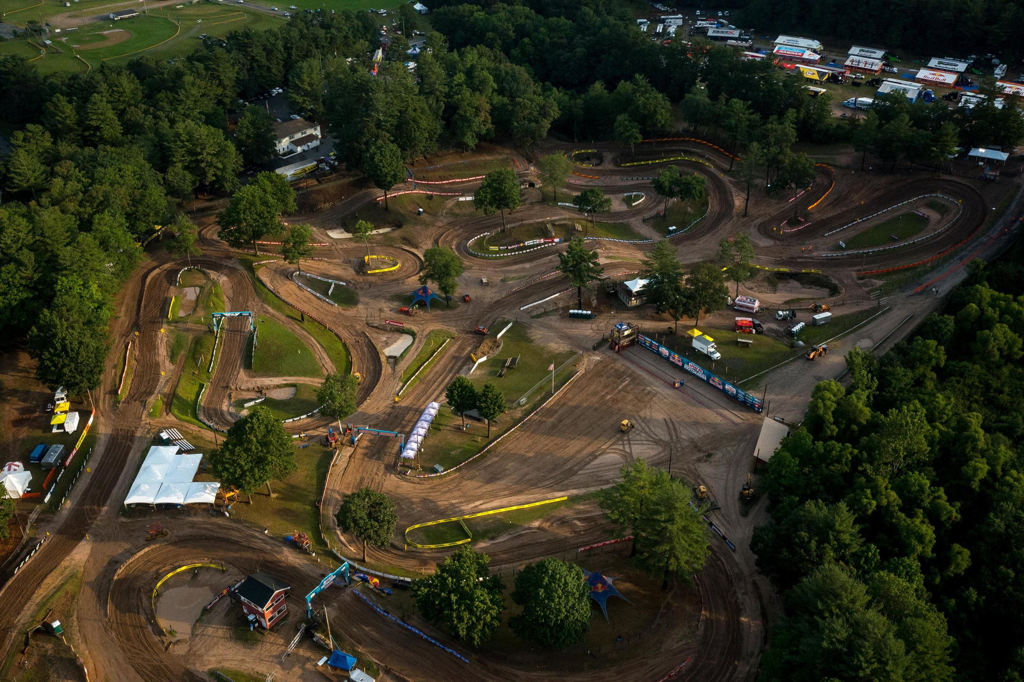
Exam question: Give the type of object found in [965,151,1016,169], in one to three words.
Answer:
tent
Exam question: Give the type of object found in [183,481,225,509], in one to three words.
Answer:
tent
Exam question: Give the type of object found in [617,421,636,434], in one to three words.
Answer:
vehicle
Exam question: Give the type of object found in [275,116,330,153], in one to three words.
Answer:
house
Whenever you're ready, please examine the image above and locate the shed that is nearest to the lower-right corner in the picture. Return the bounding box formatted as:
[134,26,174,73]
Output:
[753,417,791,474]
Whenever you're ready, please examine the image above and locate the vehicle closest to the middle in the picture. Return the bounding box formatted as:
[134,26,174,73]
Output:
[469,323,492,336]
